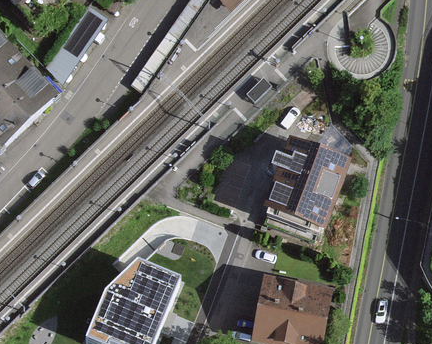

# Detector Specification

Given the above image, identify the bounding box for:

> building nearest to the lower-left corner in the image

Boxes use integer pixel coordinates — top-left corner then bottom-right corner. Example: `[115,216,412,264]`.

[86,258,182,344]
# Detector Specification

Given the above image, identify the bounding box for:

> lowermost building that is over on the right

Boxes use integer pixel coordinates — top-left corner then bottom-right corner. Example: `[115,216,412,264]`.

[252,273,335,344]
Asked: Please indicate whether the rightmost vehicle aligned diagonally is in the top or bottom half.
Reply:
top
